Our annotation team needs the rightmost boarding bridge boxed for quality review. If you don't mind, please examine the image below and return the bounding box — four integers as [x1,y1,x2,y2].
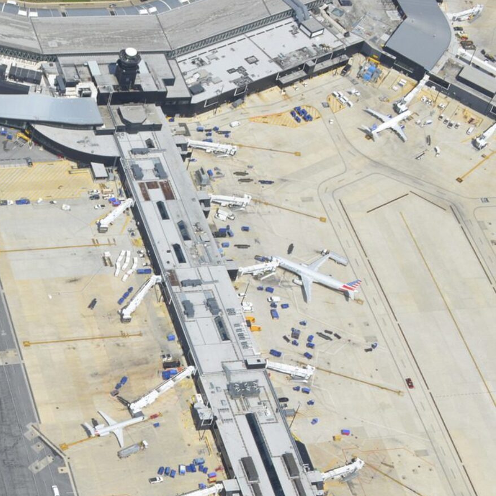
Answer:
[475,123,496,151]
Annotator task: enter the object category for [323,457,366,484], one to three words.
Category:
jet bridge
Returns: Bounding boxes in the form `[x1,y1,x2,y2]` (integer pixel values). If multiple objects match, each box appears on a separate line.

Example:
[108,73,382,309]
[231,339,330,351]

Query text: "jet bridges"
[99,198,132,235]
[447,5,482,24]
[122,275,161,325]
[266,361,319,382]
[323,457,366,484]
[397,76,430,116]
[187,140,239,158]
[132,366,194,419]
[209,195,254,212]
[475,123,496,151]
[233,259,281,281]
[190,483,224,496]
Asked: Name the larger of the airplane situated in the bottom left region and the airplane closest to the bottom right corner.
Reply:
the airplane closest to the bottom right corner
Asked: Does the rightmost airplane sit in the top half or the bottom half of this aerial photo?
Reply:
top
